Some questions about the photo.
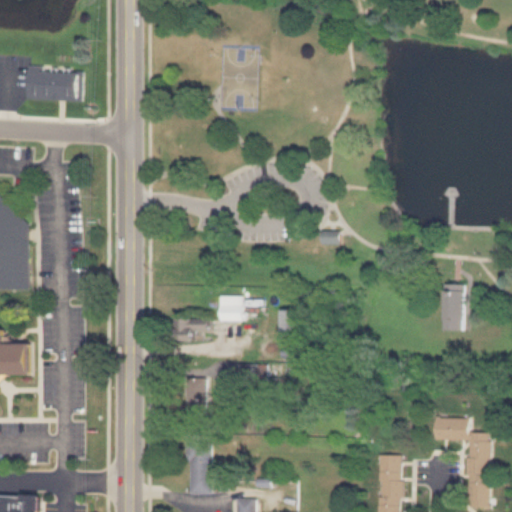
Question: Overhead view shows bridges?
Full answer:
No, I can see no bridge in this picture.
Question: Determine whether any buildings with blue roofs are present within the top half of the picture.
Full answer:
No, looking within the top half of the picture, there is no building with a blue roof.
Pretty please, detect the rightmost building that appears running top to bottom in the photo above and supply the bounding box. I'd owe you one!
[468,433,492,510]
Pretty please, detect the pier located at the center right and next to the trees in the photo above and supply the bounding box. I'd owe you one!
[444,187,459,230]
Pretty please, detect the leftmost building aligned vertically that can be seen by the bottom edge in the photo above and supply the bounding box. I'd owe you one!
[379,455,407,512]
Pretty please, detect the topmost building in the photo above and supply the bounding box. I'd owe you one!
[22,65,89,102]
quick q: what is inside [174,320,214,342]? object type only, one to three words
house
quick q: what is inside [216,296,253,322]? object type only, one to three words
barn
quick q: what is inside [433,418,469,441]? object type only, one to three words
building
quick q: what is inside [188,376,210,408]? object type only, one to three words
building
